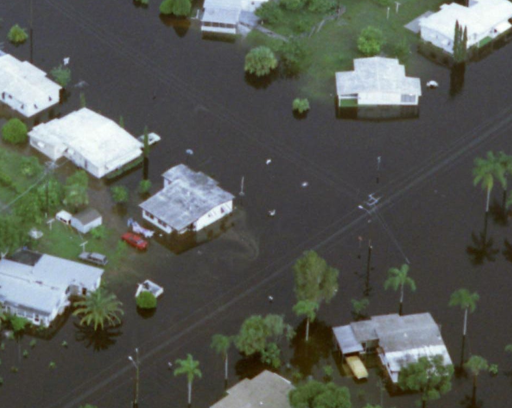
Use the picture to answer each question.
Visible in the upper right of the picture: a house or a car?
house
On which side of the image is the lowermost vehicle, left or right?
right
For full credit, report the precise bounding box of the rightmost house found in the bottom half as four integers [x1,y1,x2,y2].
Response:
[330,310,457,399]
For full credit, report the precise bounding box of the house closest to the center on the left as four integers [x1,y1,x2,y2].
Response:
[139,159,235,241]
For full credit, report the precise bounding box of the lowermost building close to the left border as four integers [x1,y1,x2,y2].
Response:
[0,246,103,329]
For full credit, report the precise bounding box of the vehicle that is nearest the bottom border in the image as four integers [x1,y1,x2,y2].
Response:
[342,351,369,383]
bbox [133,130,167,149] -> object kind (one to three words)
vehicle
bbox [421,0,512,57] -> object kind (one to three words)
house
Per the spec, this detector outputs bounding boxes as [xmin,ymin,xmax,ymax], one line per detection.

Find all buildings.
[335,55,421,109]
[71,206,100,232]
[421,0,512,57]
[201,0,266,37]
[0,55,62,121]
[29,107,141,180]
[139,159,235,241]
[210,366,304,408]
[330,310,457,399]
[0,246,103,329]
